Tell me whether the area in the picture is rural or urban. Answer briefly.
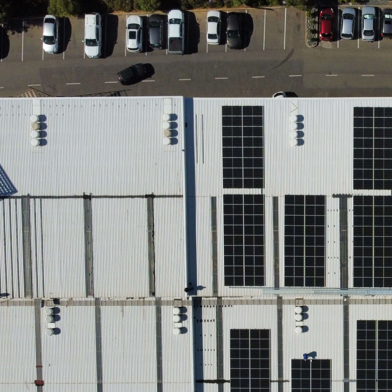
urban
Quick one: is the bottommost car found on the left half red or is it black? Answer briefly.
black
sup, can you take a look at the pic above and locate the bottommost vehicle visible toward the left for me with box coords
[115,62,157,87]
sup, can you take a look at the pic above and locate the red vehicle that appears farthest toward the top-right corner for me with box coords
[317,6,335,44]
